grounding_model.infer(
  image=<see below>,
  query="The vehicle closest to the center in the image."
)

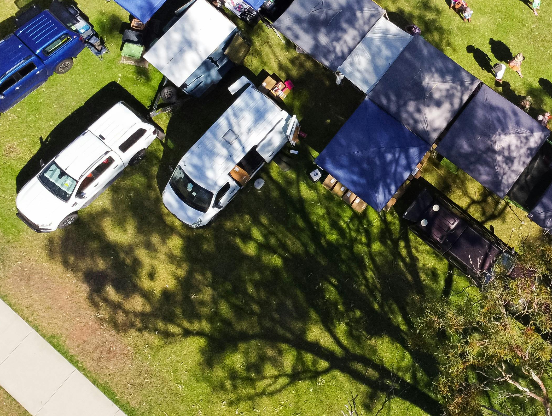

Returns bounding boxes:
[162,76,298,218]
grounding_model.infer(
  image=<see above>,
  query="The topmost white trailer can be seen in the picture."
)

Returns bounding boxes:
[145,0,251,118]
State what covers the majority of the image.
grass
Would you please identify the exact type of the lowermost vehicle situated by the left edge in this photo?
truck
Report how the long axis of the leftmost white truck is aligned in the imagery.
diagonally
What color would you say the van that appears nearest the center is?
white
